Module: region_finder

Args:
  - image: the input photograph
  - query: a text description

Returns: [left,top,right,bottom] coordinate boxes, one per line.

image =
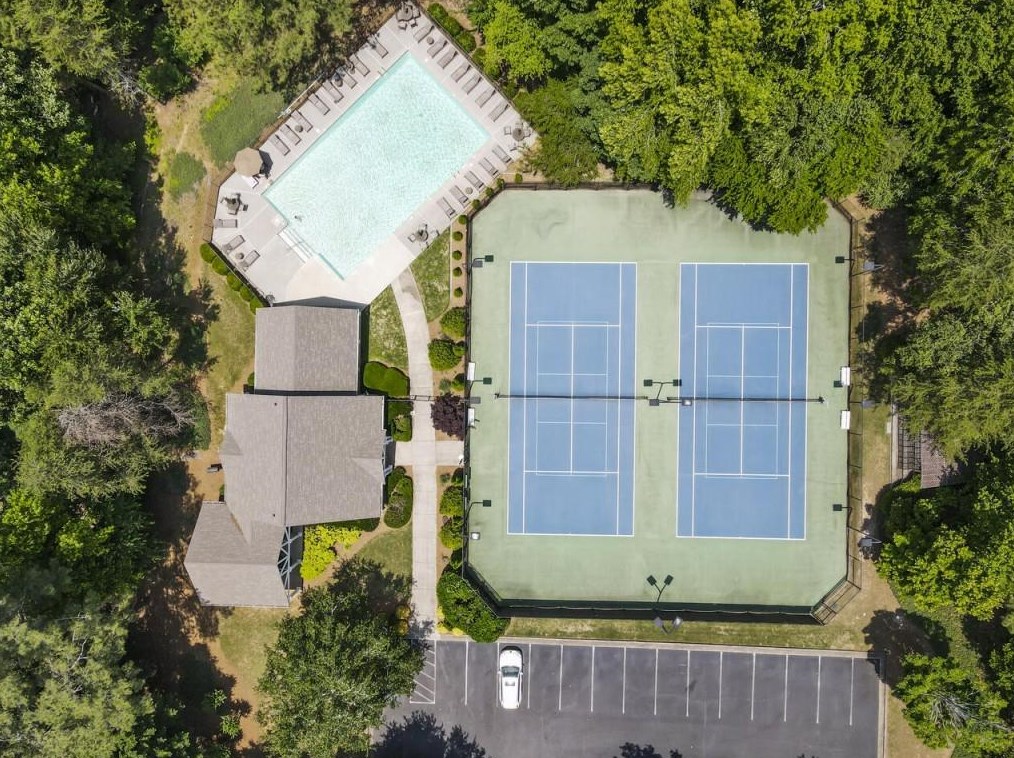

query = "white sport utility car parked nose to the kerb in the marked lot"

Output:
[498,649,525,712]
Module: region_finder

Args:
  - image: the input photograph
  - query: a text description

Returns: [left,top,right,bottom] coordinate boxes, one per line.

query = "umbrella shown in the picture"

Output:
[235,149,263,177]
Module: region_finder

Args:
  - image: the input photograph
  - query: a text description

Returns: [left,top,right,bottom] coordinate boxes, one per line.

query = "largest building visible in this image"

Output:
[186,395,403,607]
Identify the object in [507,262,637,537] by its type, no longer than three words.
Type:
tennis court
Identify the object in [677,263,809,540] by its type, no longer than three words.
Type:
tennis court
